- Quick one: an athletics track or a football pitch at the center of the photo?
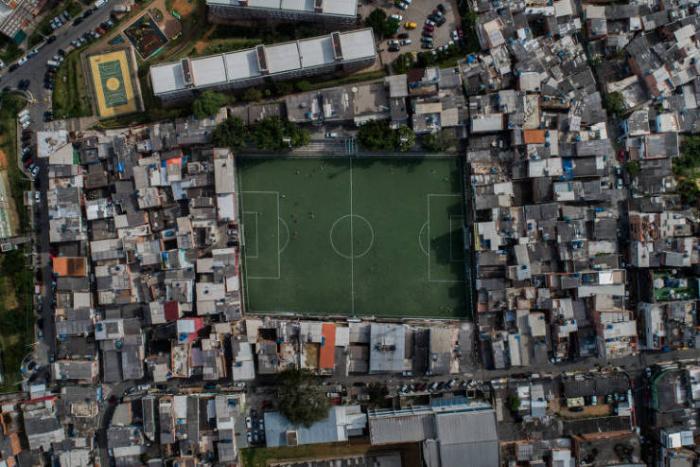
football pitch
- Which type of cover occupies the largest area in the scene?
buildings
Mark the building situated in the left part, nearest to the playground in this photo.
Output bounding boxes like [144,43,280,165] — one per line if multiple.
[148,27,377,101]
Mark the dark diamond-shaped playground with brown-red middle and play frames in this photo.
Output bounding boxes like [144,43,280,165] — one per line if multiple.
[121,10,168,60]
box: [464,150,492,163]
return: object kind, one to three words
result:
house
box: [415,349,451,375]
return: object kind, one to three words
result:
house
